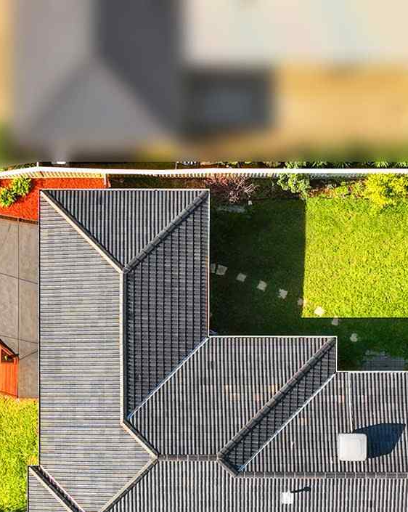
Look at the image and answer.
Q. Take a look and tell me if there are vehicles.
No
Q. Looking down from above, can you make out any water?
No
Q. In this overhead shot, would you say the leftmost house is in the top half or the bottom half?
top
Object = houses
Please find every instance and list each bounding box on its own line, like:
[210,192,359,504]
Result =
[9,0,184,144]
[24,185,408,512]
[185,0,408,64]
